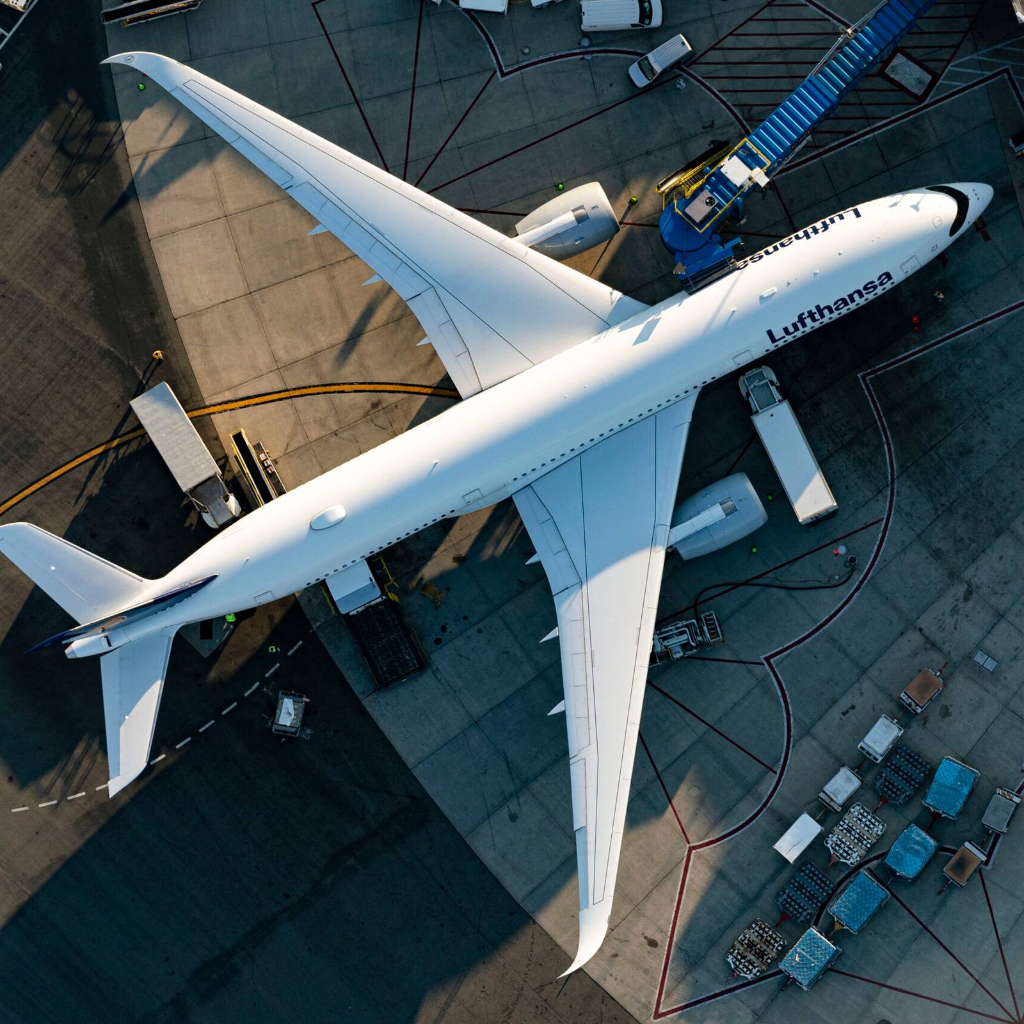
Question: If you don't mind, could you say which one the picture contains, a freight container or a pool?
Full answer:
Looking from above, you can make out a freight container.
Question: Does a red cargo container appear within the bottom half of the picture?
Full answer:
No, there's no red cargo container to be seen within the bottom half of the picture.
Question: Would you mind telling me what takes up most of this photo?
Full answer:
The largest share of the image is taken up by paved ground.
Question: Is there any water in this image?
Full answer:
No, there is no water in the image.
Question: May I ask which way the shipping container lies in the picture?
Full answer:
The shipping container runs at an angle in the image.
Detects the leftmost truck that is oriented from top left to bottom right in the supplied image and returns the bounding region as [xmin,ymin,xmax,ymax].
[131,381,249,537]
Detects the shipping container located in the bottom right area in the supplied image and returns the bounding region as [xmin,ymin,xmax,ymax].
[772,805,830,865]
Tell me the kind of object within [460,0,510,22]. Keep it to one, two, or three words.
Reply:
truck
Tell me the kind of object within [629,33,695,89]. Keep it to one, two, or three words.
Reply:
van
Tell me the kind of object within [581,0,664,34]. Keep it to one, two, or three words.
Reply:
van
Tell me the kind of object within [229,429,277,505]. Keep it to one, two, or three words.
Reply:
work vehicle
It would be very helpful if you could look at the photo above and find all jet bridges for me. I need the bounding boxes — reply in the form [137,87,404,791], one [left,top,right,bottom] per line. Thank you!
[658,0,943,296]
